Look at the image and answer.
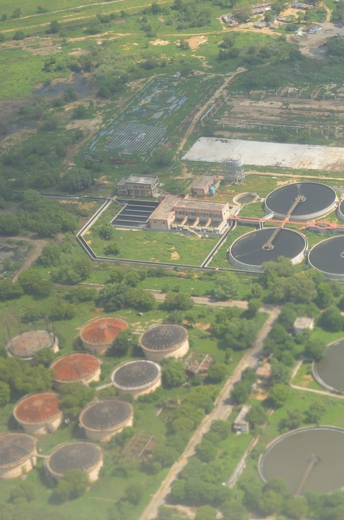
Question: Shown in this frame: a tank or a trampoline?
tank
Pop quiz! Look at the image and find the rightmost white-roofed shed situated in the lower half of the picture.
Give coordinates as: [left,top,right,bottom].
[294,317,316,335]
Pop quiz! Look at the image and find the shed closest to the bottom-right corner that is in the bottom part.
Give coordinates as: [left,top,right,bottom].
[235,406,257,432]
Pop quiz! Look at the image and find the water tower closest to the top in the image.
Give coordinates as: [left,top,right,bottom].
[220,153,245,187]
